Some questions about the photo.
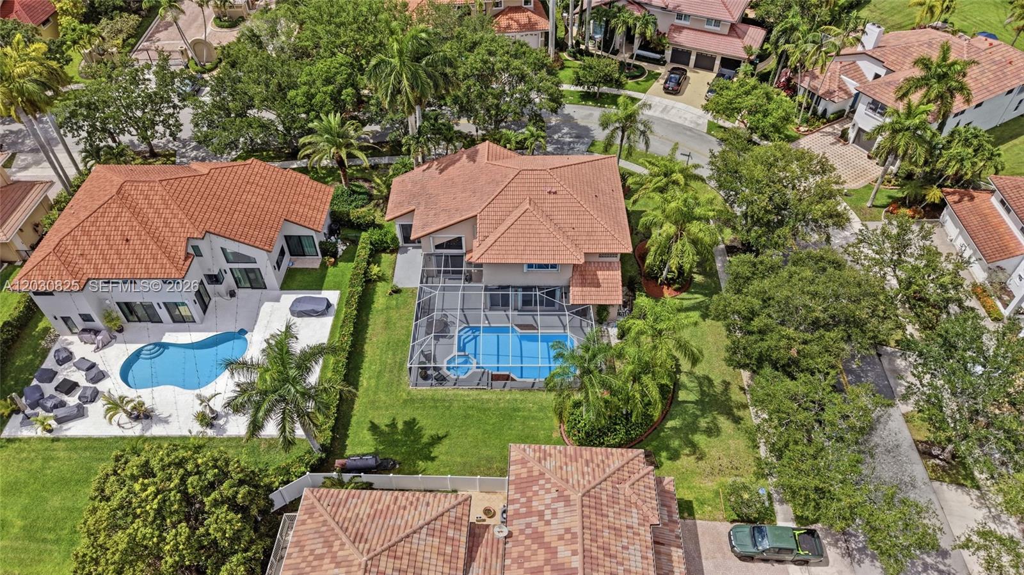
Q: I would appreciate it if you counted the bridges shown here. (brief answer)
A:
none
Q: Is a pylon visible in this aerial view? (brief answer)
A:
No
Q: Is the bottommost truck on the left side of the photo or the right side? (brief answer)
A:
right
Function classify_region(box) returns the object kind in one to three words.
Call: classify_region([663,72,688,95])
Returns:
car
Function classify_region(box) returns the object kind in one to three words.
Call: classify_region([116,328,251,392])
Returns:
swimming pool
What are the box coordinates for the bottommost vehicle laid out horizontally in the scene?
[727,523,829,568]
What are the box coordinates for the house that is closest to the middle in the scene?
[384,140,634,323]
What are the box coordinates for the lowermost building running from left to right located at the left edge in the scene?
[4,160,336,333]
